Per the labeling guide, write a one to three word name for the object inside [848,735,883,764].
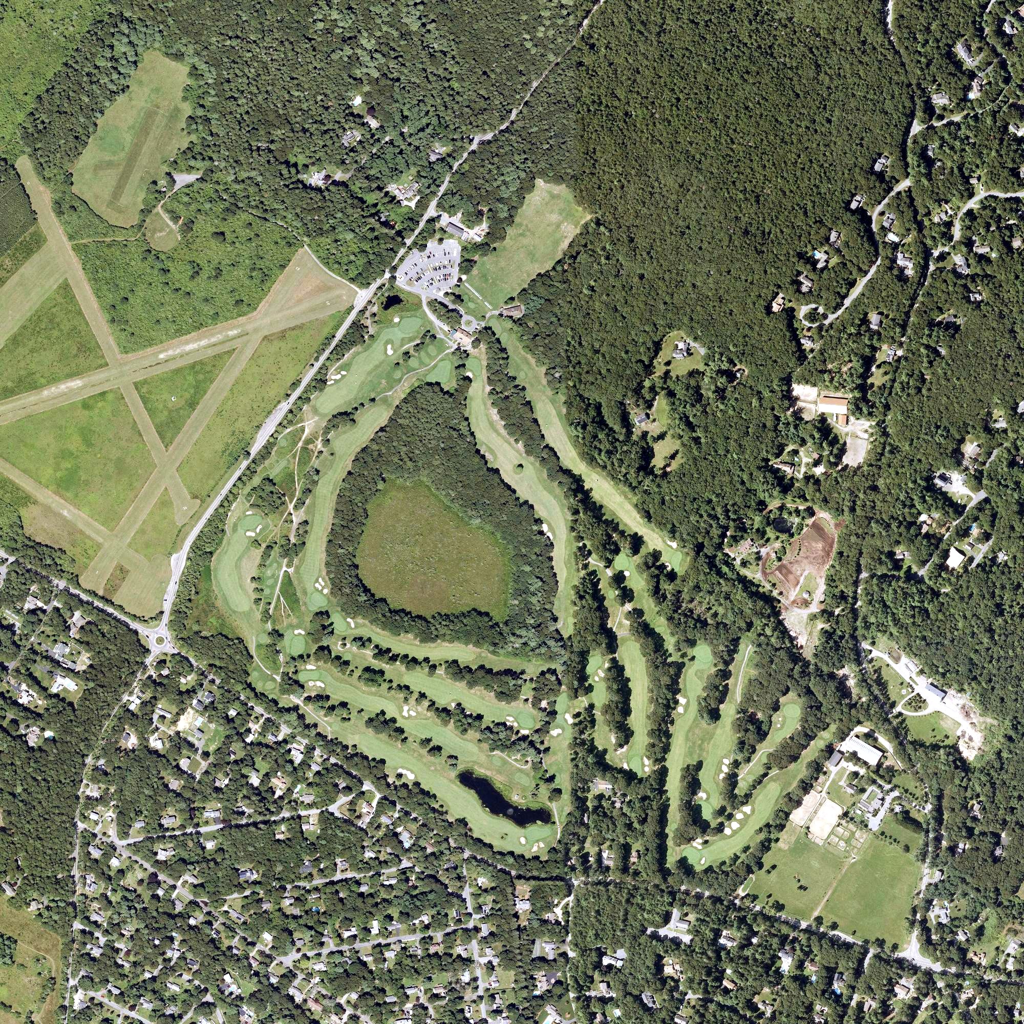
barn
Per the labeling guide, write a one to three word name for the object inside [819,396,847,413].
barn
